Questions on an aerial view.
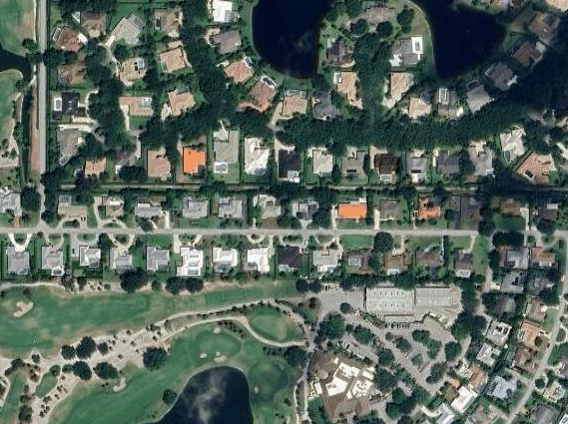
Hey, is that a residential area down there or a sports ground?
residential area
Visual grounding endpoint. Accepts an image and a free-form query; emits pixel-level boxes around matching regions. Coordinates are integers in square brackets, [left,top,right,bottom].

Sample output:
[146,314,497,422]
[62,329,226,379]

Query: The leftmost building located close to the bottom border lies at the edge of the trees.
[307,350,378,420]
